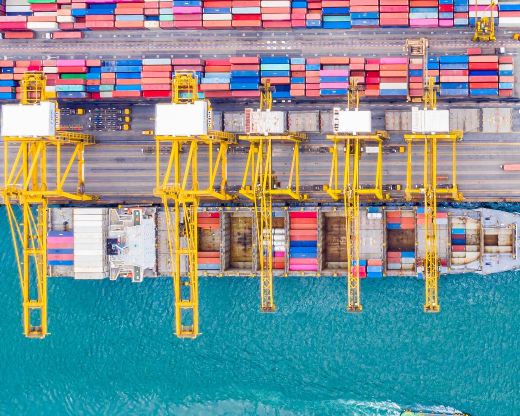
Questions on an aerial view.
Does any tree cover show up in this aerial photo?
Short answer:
No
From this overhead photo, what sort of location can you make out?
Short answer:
port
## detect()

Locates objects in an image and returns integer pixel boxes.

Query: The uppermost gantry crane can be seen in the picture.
[474,0,502,44]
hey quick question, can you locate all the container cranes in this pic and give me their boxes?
[474,0,502,44]
[156,71,244,338]
[242,71,321,313]
[407,40,436,107]
[402,71,476,313]
[328,71,402,313]
[2,71,100,338]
